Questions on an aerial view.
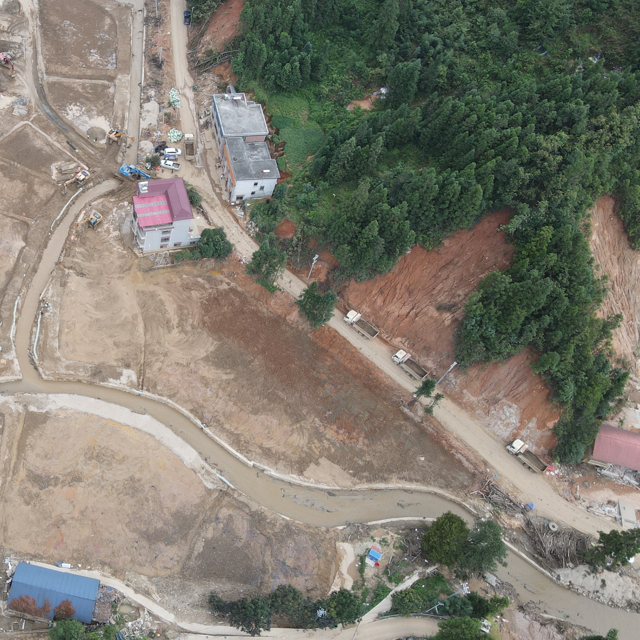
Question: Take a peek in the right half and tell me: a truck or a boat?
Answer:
truck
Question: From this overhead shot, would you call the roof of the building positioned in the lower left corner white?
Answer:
No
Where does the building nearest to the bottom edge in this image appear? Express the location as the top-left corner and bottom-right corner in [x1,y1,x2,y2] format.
[10,562,117,627]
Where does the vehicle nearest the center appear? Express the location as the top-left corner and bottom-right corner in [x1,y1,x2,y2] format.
[342,303,386,337]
